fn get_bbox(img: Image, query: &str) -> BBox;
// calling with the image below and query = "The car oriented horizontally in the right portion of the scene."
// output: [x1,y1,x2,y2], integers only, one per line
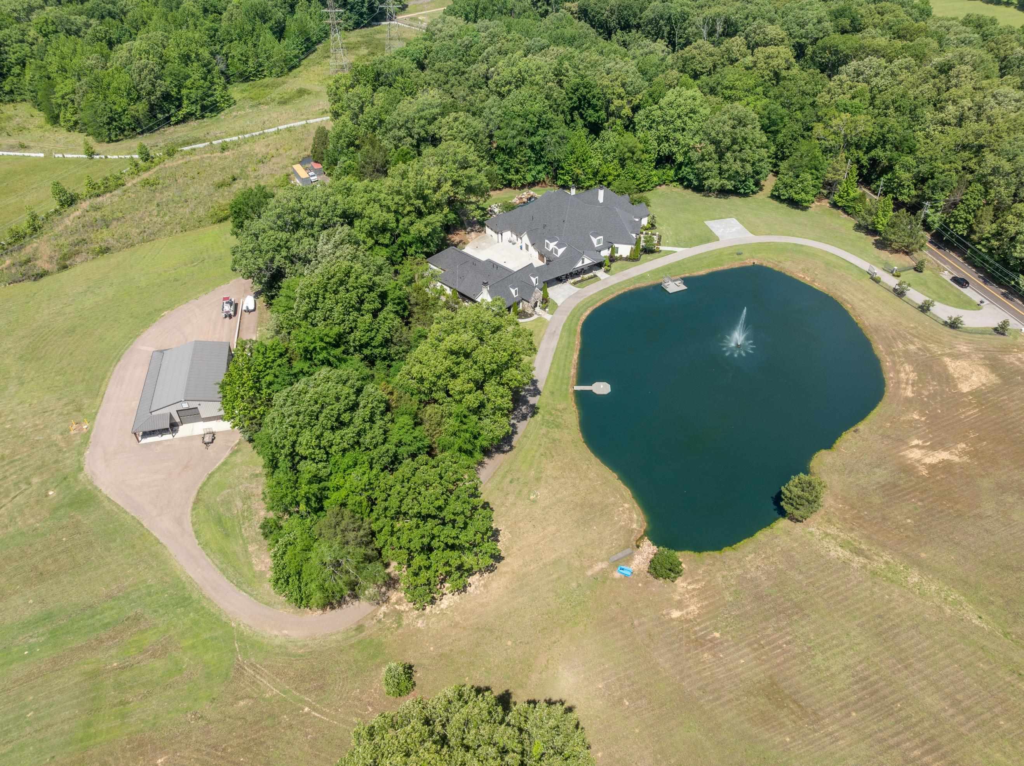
[949,276,972,288]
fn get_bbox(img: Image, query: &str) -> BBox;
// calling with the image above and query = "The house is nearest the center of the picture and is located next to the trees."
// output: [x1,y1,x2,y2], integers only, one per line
[428,185,649,314]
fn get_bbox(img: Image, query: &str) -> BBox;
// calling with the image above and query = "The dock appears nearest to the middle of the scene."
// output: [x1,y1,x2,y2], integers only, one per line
[573,382,611,396]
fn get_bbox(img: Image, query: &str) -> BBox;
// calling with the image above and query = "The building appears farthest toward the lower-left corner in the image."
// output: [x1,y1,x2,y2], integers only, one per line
[131,337,233,443]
